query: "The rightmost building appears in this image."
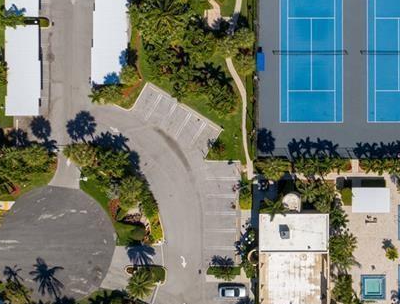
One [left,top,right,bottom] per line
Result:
[352,188,390,213]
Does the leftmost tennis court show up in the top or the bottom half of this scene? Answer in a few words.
top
